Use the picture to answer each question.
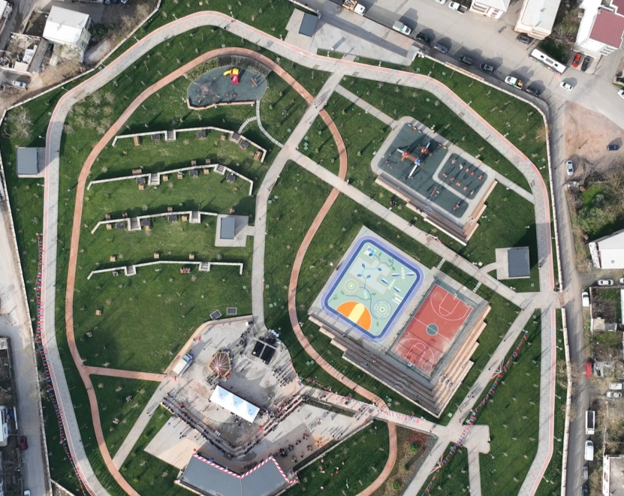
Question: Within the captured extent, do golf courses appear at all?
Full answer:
No, I can see no golf course in this picture.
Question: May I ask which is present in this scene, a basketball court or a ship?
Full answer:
Of the two, only a basketball court appears.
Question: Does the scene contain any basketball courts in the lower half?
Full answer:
Yes, looking in the lower half, one can make out a basketball court.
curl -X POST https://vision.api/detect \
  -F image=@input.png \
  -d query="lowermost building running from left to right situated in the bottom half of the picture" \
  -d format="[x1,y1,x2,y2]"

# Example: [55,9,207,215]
[181,454,289,496]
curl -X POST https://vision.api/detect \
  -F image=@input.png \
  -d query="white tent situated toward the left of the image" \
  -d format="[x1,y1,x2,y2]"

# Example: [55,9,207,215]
[210,385,260,422]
